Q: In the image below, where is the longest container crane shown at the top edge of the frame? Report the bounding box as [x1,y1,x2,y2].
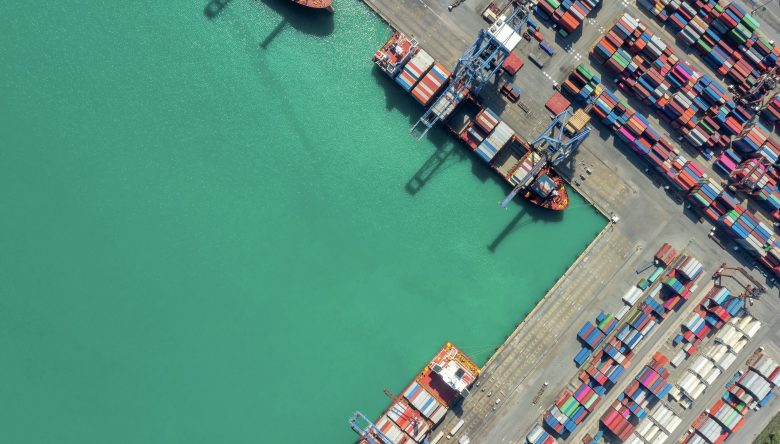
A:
[408,2,535,143]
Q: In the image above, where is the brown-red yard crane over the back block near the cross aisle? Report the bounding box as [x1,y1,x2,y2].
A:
[730,71,779,113]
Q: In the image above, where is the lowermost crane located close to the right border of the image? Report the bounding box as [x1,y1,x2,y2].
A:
[714,264,766,301]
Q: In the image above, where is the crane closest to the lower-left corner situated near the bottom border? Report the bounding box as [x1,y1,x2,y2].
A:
[348,409,399,444]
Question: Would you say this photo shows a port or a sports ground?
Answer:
port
